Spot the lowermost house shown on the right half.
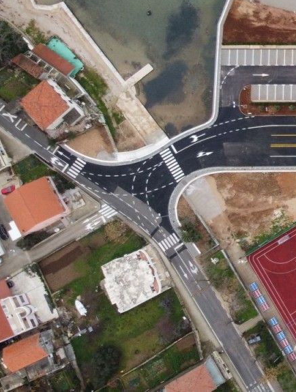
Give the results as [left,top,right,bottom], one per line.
[165,354,228,392]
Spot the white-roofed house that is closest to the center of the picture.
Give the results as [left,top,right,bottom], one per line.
[101,248,165,313]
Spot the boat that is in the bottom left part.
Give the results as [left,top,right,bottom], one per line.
[73,303,86,317]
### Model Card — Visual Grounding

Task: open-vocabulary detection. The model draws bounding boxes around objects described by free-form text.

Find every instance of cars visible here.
[0,224,9,240]
[0,185,15,195]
